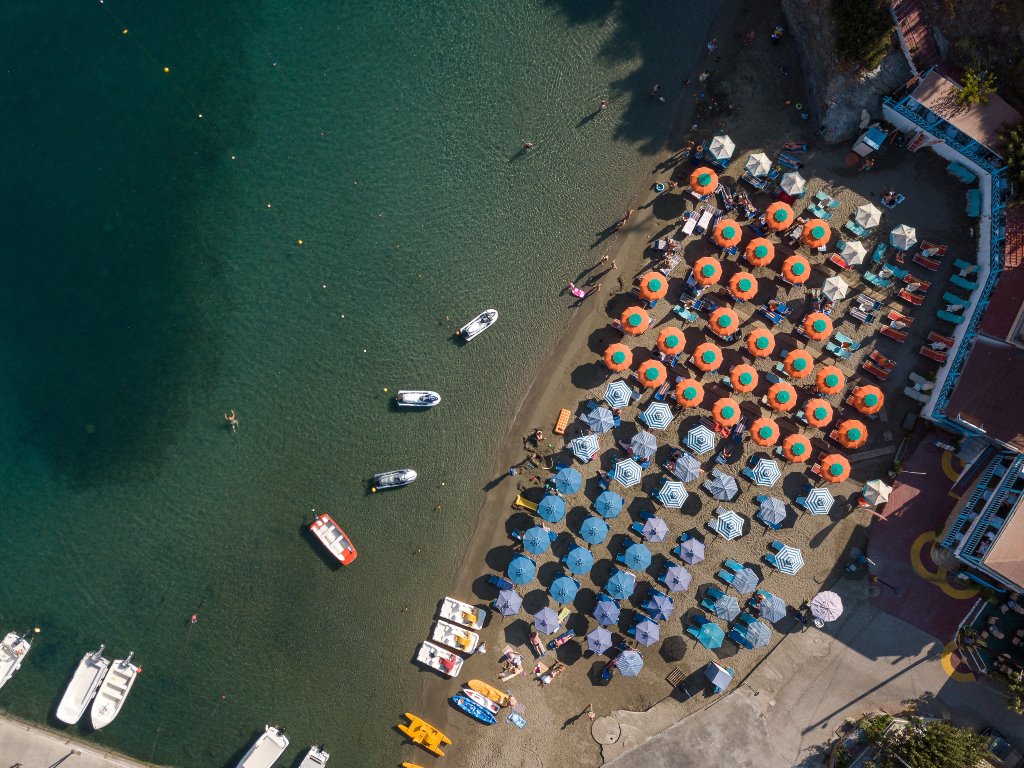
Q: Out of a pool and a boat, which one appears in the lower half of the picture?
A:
boat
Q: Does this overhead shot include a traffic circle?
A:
No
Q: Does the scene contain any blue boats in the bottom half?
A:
Yes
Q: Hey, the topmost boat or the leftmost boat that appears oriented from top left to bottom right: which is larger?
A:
the leftmost boat that appears oriented from top left to bottom right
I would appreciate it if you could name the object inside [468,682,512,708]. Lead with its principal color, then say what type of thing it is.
orange boat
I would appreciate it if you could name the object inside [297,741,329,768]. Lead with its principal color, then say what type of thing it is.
white boat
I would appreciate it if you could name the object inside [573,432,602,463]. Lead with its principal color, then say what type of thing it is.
white umbrella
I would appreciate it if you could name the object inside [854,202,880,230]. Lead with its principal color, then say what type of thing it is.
white umbrella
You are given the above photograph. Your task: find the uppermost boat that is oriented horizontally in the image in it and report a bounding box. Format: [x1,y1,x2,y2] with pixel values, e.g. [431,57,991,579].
[397,390,440,407]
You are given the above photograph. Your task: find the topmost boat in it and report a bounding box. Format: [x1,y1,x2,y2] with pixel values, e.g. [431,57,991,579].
[458,310,497,343]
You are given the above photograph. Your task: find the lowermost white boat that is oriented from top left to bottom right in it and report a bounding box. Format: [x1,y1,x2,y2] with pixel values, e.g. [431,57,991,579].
[463,691,500,714]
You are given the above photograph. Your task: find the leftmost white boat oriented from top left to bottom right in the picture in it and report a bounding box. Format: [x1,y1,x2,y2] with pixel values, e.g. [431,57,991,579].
[308,509,356,566]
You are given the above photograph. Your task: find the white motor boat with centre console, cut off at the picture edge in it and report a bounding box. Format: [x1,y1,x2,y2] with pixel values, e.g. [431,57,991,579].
[0,628,36,689]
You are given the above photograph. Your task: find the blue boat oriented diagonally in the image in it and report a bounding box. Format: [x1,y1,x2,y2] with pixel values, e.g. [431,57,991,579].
[453,697,495,724]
